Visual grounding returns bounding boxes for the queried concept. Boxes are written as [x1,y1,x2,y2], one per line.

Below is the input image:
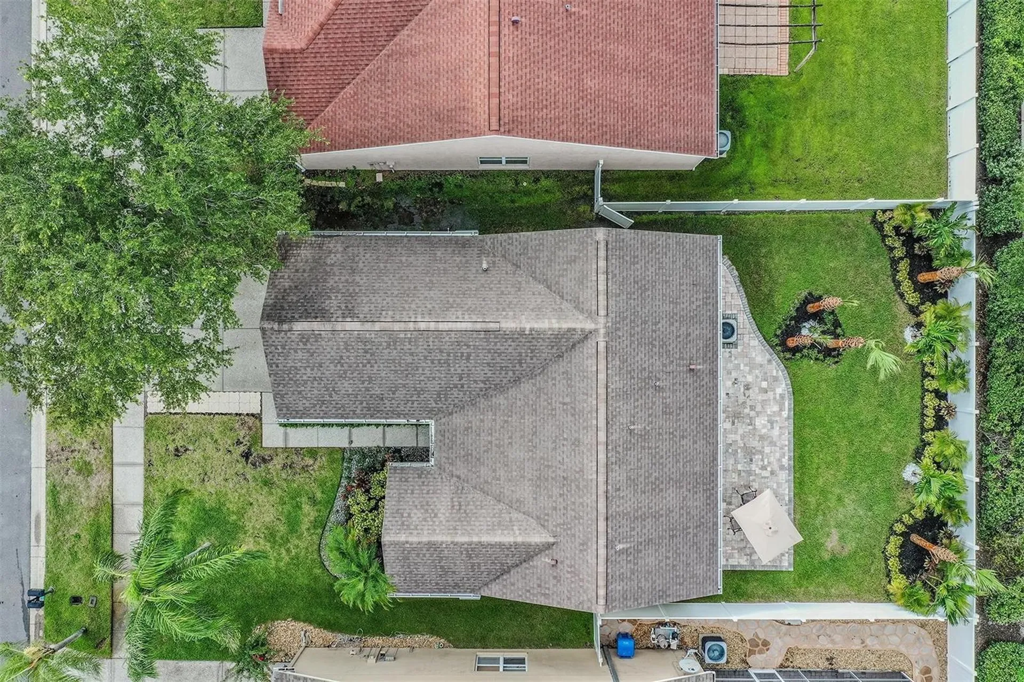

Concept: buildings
[264,0,720,178]
[270,645,718,682]
[259,225,723,614]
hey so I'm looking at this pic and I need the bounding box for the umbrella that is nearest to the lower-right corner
[731,488,803,564]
